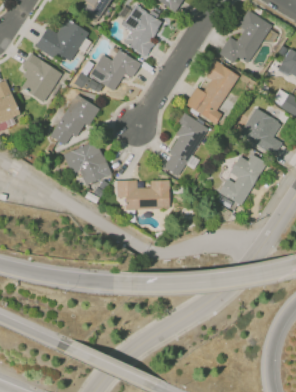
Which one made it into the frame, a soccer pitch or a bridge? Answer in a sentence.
Visible in the photo is a bridge.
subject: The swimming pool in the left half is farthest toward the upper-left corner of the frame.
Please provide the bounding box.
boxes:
[62,56,82,72]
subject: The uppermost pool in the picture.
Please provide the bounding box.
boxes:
[111,22,124,41]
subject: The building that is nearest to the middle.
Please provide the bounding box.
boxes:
[118,180,172,210]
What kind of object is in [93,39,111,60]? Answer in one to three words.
swimming pool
